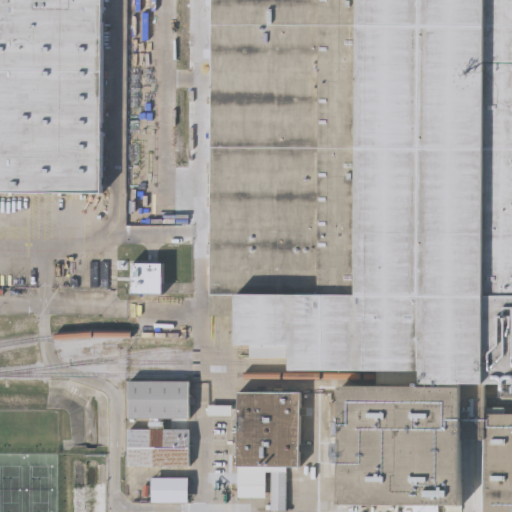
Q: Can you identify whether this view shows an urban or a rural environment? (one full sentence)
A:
This place is urban.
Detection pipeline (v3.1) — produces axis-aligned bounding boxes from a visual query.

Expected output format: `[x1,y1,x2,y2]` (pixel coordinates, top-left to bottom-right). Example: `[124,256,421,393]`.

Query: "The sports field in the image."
[0,410,59,453]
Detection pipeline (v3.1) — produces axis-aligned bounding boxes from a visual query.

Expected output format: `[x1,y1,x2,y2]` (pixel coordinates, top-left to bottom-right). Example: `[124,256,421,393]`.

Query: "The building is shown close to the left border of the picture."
[0,0,105,192]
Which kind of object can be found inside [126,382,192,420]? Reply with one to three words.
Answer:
building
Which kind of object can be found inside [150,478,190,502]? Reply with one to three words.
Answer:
shed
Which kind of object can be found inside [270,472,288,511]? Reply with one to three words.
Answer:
shed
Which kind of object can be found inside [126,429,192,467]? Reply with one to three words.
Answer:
building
